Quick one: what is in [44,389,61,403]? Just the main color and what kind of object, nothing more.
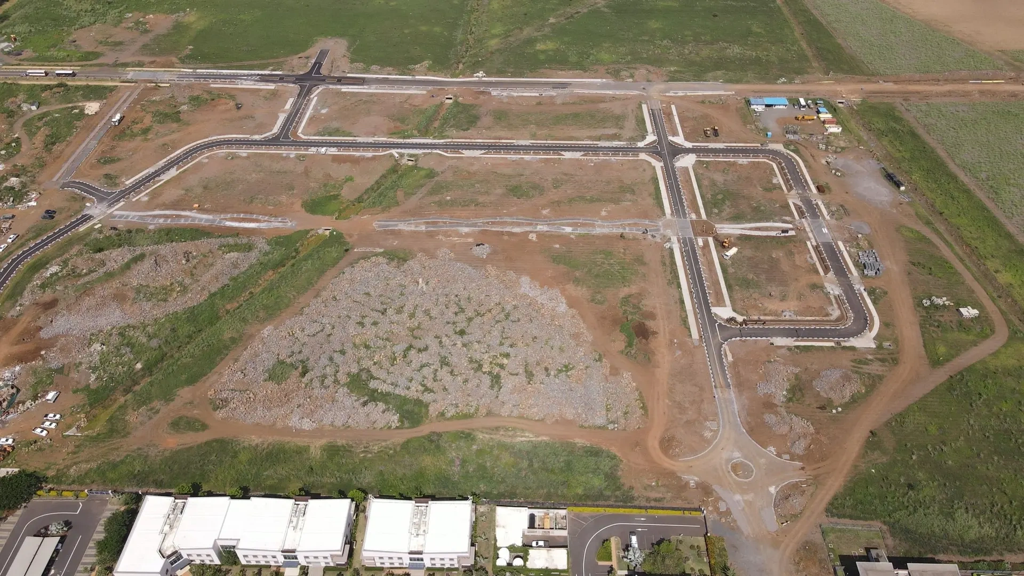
white vehicle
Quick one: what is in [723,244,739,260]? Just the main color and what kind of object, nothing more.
white vehicle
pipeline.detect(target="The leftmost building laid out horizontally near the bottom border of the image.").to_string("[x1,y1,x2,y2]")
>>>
[113,495,357,576]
